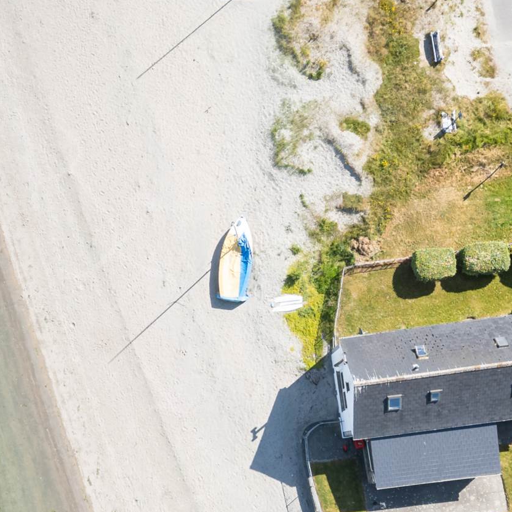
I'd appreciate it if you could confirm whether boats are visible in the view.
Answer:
Yes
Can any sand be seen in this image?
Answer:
Yes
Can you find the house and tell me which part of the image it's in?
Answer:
bottom right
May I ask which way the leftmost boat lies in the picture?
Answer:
from top to bottom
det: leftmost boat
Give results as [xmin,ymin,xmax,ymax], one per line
[217,216,251,302]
